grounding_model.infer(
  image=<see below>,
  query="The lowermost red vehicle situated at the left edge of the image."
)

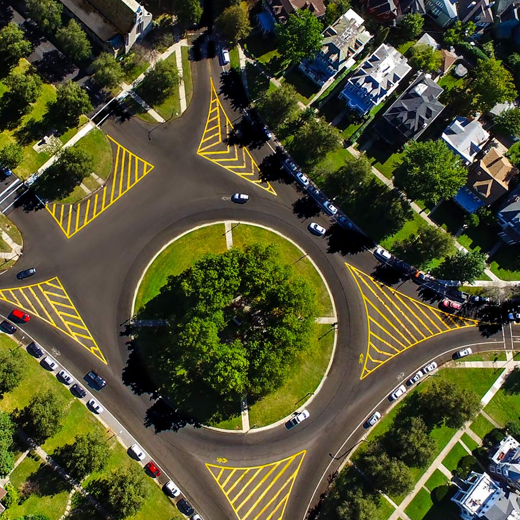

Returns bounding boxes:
[10,308,31,322]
